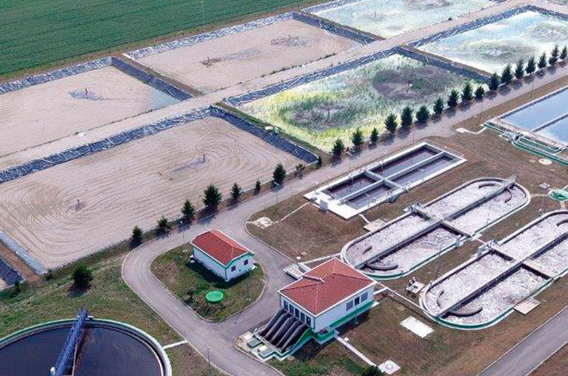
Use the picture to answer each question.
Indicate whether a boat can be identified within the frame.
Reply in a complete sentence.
No, the picture doesn't show any boat.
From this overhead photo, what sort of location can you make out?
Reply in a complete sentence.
This image shows an industrial area.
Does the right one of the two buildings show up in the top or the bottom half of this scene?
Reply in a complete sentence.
It is in the bottom half that the right one of the two buildings appears.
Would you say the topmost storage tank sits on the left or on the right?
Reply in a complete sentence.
You can find the topmost storage tank on the right side of the picture.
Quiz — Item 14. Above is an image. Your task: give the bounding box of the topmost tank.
[303,139,469,220]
